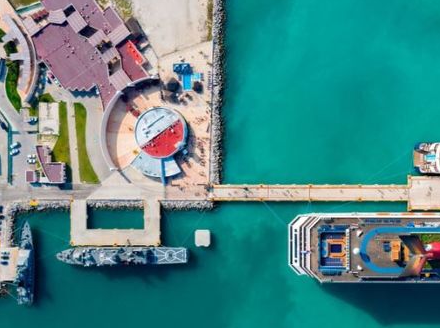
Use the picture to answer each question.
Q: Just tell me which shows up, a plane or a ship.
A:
ship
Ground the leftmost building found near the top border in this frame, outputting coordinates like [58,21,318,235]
[23,0,150,107]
